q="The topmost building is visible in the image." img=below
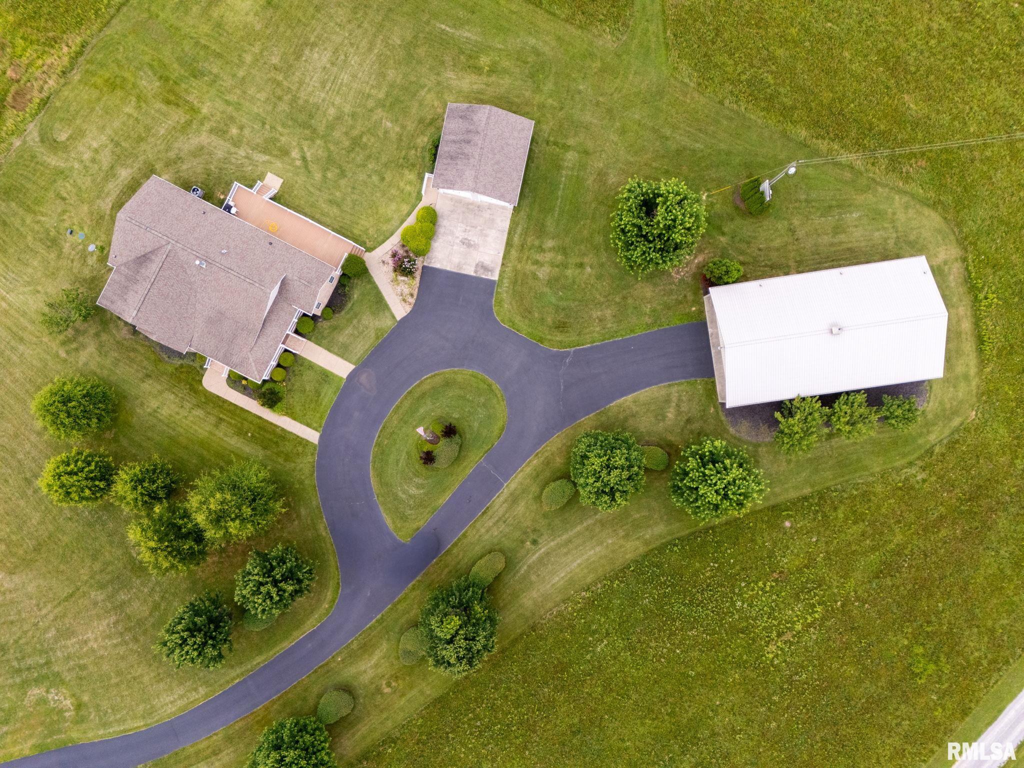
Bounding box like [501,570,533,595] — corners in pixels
[431,103,535,207]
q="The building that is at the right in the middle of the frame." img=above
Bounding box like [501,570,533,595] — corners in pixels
[703,254,950,410]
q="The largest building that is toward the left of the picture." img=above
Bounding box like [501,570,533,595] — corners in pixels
[98,174,339,383]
